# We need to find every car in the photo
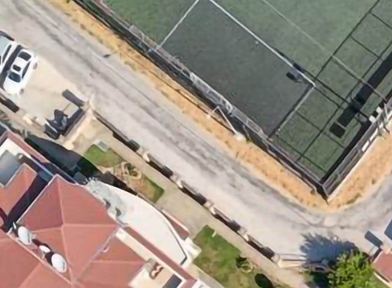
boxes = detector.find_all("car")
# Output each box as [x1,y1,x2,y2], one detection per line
[1,46,40,95]
[0,31,19,78]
